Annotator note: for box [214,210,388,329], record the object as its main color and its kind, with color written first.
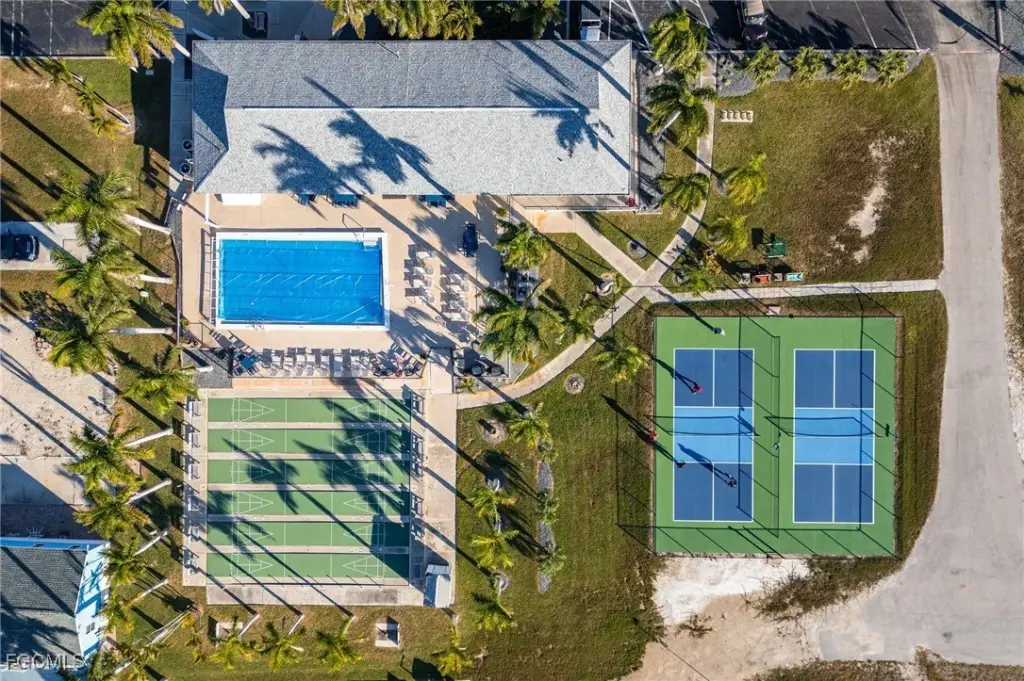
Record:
blue swimming pool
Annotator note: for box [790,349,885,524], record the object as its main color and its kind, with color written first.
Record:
blue sports court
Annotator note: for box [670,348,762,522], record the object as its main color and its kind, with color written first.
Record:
blue sports court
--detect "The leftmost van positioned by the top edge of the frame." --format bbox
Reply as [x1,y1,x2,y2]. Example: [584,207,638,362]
[579,0,609,39]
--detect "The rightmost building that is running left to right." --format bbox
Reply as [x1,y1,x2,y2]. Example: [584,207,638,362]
[192,39,663,214]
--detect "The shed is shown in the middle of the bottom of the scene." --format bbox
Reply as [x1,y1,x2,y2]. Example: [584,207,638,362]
[424,558,451,611]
